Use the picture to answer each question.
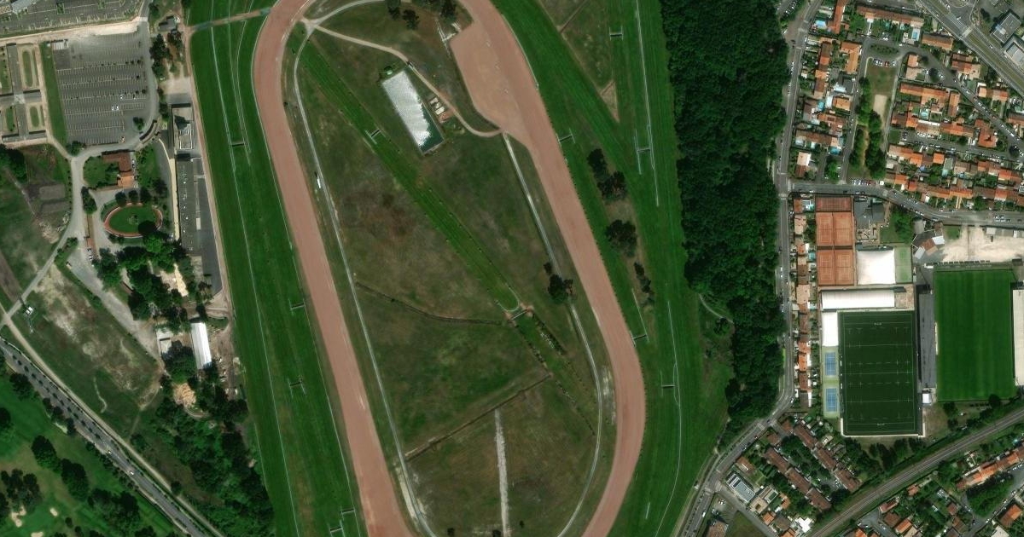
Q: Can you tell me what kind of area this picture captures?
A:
sports ground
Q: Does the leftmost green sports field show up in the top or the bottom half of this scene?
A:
bottom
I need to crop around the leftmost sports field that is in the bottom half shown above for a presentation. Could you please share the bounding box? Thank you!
[837,309,926,438]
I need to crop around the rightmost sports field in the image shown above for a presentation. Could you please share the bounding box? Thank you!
[935,269,1016,403]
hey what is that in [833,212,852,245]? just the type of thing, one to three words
tennis court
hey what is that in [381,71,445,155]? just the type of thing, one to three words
pond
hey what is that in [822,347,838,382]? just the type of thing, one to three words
tennis court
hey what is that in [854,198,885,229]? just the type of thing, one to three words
building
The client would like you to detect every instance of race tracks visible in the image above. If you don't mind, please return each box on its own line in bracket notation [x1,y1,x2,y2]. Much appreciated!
[182,0,725,537]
